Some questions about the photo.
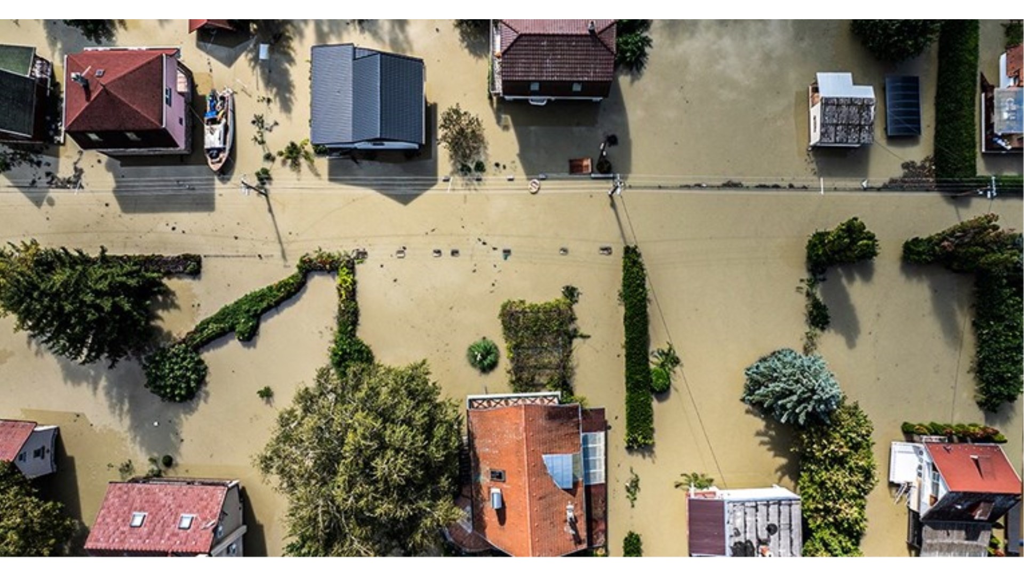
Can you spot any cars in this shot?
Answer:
No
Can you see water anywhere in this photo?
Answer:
Yes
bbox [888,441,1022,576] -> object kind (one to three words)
house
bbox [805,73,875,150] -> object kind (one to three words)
shed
